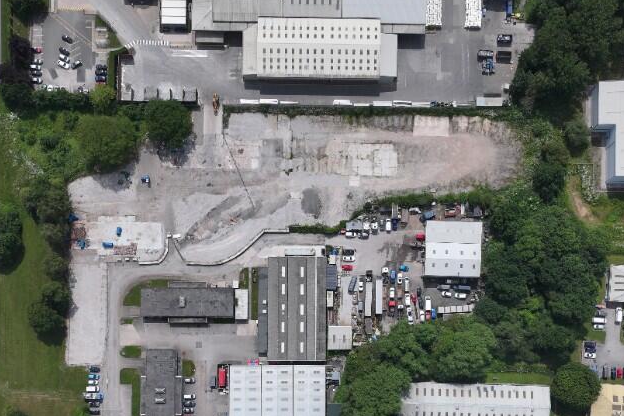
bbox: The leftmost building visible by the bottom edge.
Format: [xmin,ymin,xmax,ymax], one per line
[141,349,184,416]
